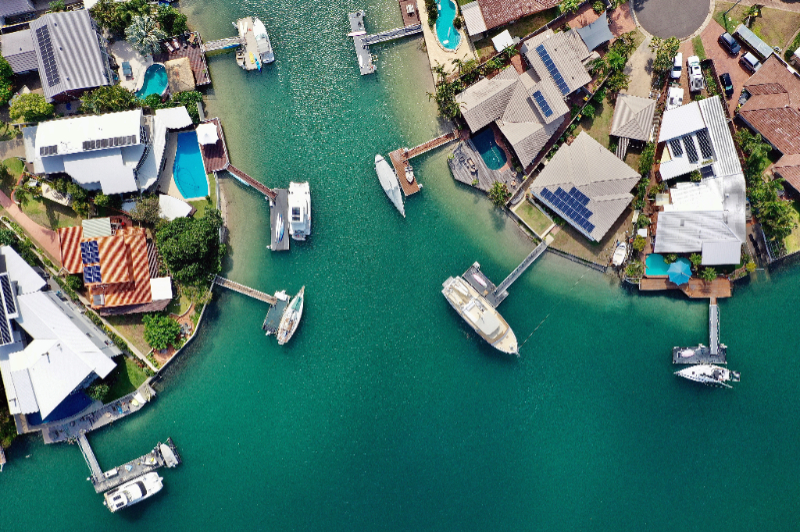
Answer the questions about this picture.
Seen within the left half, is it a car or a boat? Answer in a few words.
boat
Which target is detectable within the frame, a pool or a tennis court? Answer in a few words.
pool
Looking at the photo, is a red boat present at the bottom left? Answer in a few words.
No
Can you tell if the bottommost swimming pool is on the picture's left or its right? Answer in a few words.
left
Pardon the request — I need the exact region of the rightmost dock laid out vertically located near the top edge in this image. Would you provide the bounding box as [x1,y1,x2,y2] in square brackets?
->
[348,8,378,76]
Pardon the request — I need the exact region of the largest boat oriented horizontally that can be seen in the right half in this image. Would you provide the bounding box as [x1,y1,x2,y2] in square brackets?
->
[674,365,738,384]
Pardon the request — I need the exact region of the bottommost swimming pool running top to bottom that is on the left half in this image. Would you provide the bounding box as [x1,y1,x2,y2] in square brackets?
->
[172,129,211,200]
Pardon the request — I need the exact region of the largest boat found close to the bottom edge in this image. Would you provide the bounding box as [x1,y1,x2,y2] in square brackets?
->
[102,473,165,512]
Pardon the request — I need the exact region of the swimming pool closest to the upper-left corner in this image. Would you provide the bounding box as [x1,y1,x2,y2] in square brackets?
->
[134,62,170,101]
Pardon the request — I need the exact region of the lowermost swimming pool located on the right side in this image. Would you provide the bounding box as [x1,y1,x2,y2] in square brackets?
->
[644,252,692,278]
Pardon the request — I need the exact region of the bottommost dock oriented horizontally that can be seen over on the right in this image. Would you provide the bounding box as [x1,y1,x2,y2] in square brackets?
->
[672,345,727,364]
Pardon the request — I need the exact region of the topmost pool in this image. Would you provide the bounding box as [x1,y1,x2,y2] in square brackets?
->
[433,0,464,55]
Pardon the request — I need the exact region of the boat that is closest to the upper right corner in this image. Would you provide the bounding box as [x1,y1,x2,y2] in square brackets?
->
[610,243,626,266]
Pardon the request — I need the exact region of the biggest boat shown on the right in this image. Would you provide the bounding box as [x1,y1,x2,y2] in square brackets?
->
[439,274,521,355]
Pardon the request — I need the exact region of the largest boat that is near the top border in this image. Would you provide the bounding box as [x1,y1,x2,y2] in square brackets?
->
[254,19,277,66]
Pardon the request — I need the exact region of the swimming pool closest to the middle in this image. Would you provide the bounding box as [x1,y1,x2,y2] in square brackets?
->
[474,130,508,173]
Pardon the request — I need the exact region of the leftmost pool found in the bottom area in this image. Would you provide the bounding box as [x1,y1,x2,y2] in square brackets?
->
[21,385,96,427]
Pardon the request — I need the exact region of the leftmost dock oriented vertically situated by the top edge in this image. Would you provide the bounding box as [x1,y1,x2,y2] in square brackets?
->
[232,16,263,72]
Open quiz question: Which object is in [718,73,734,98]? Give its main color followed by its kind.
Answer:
black car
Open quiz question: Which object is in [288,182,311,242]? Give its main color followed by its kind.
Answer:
white boat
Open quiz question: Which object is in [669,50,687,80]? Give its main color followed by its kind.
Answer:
white vehicle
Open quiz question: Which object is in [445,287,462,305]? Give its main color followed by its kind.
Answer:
white boat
